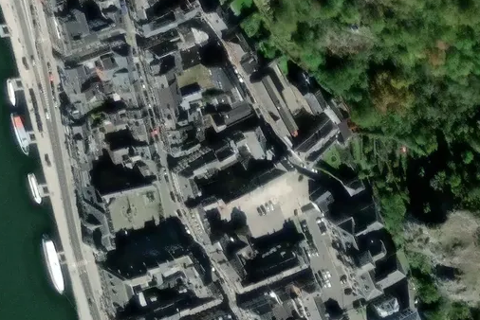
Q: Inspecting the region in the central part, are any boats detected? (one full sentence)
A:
No, the scene shows no boat in the central part.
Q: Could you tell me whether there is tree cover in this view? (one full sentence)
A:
Yes, tree cover shows up in the scene.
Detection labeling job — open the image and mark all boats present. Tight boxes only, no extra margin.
[41,236,63,293]
[11,114,28,156]
[8,79,17,107]
[28,173,40,204]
